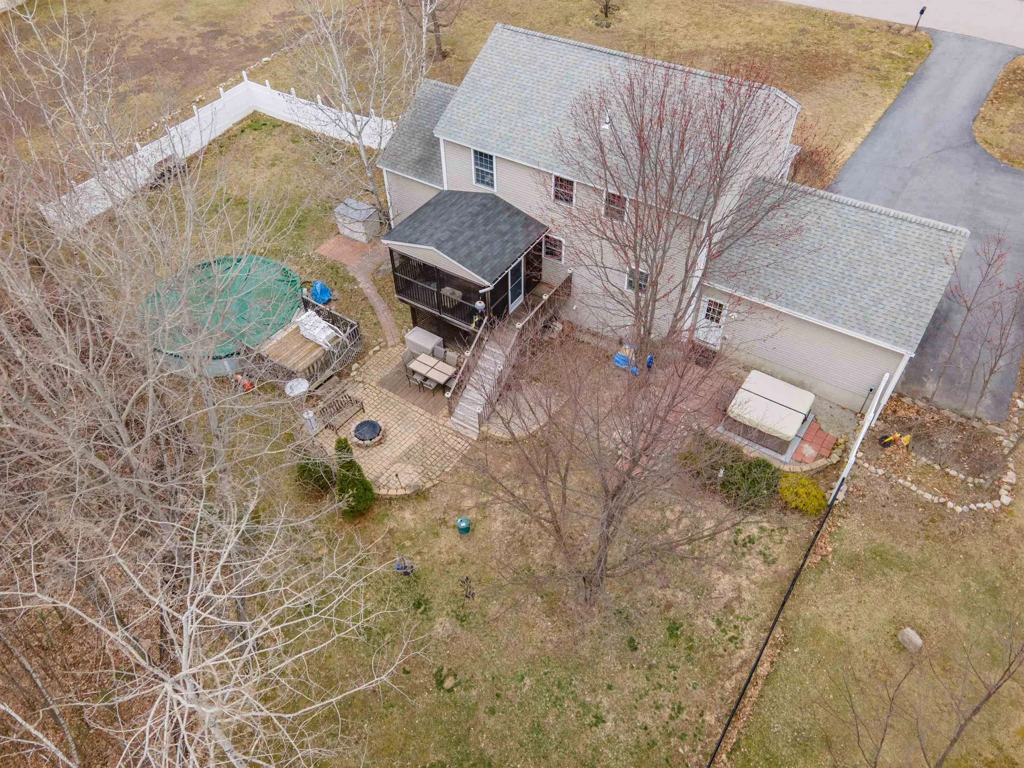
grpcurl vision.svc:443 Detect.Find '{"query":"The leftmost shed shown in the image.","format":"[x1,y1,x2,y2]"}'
[329,198,384,250]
